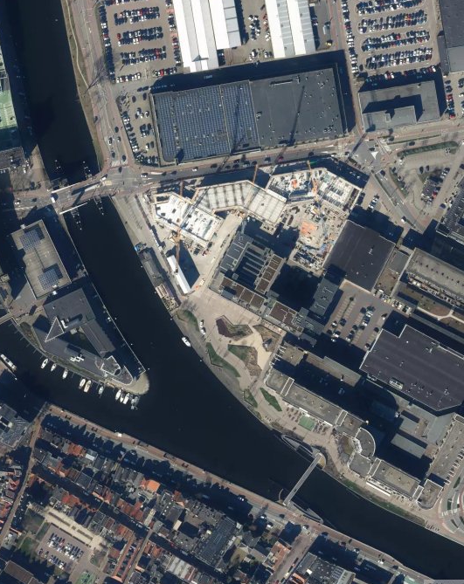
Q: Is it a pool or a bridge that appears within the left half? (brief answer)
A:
bridge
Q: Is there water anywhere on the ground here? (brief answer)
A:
Yes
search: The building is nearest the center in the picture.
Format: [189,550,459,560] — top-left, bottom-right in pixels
[209,273,266,318]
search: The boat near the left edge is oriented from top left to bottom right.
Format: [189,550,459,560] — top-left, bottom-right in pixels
[0,353,17,371]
